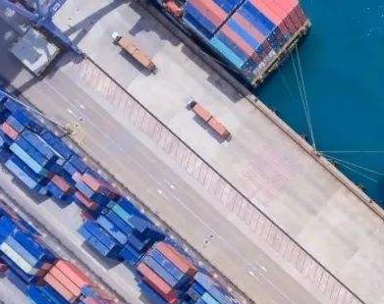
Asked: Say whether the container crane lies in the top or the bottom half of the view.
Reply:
top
